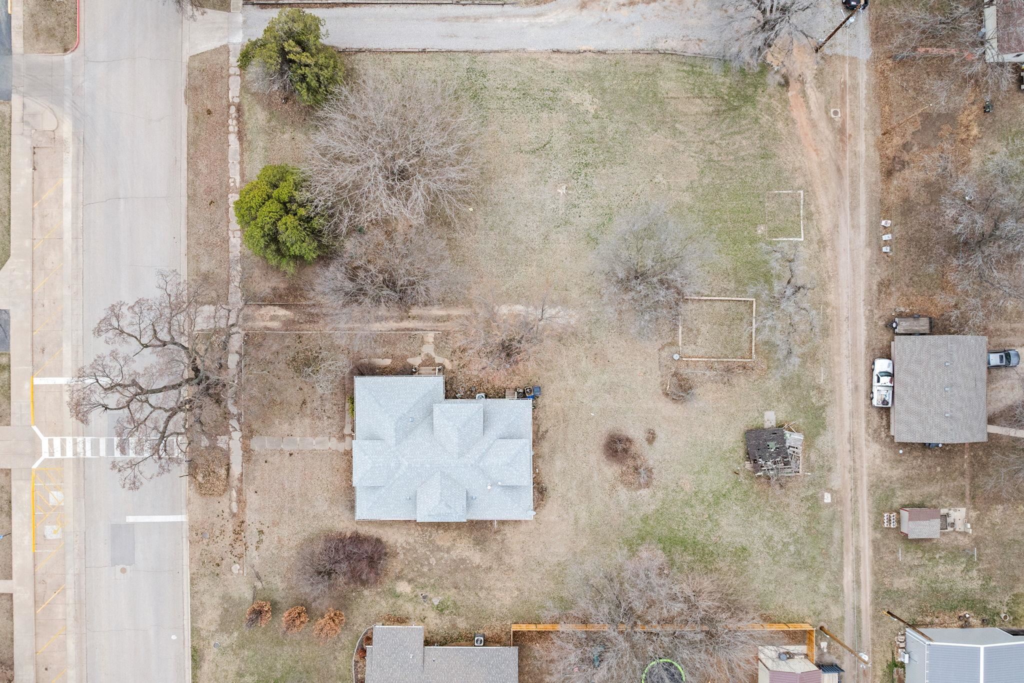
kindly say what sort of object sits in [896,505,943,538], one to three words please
shed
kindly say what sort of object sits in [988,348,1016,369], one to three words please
car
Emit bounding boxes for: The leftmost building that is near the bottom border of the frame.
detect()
[364,617,518,683]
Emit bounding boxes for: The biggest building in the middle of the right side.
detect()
[890,336,988,444]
